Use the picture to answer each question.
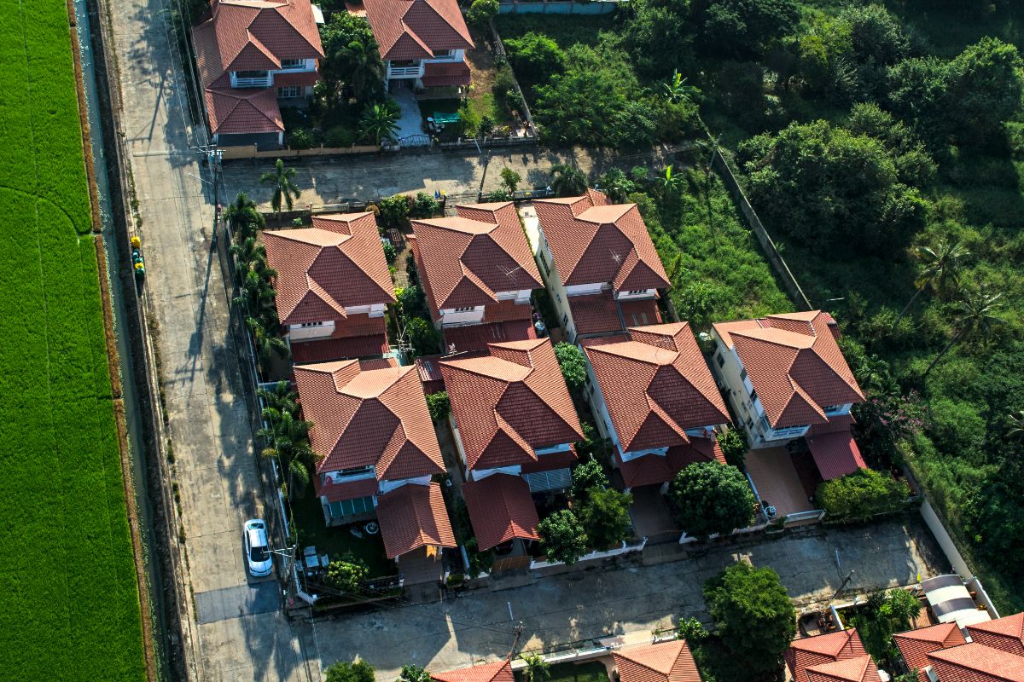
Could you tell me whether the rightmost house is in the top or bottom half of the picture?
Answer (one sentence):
It is in the bottom half that the rightmost house appears.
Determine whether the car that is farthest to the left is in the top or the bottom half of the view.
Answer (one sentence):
The car that is farthest to the left is in the bottom half of the image.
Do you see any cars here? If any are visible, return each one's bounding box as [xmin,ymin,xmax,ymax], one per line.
[489,541,514,560]
[242,521,273,578]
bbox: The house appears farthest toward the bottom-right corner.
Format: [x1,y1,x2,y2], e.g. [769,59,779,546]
[878,614,1024,682]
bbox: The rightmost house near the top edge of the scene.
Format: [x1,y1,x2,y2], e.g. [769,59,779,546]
[340,0,476,112]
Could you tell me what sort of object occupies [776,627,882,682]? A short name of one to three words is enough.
house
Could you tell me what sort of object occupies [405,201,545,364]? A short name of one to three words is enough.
house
